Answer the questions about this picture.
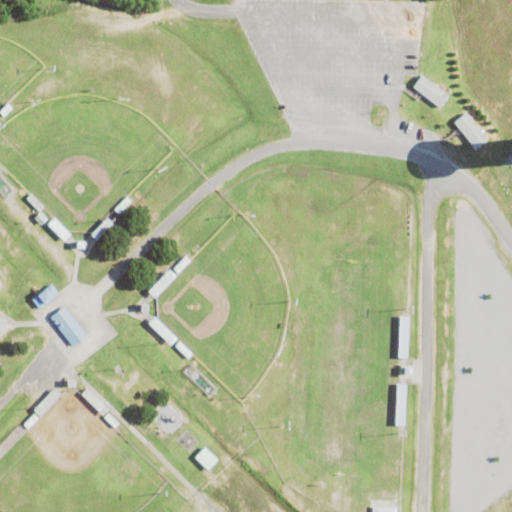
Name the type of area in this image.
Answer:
sports ground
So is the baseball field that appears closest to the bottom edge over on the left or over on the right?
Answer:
left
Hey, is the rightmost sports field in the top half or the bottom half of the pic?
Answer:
bottom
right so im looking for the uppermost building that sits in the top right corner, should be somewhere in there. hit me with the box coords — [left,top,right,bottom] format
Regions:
[412,76,449,108]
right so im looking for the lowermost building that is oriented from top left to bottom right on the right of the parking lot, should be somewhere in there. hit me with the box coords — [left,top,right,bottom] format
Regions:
[454,113,488,148]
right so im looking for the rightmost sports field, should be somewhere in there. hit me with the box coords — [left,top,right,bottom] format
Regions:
[291,256,397,480]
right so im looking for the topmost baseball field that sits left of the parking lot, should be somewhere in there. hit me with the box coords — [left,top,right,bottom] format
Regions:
[0,37,44,112]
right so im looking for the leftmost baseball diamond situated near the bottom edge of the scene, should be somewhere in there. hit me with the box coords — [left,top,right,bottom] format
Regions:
[0,390,167,512]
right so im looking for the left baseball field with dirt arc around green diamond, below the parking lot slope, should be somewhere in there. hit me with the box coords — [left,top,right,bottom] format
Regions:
[0,95,173,232]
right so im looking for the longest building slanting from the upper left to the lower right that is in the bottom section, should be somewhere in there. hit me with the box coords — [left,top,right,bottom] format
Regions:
[50,306,87,346]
